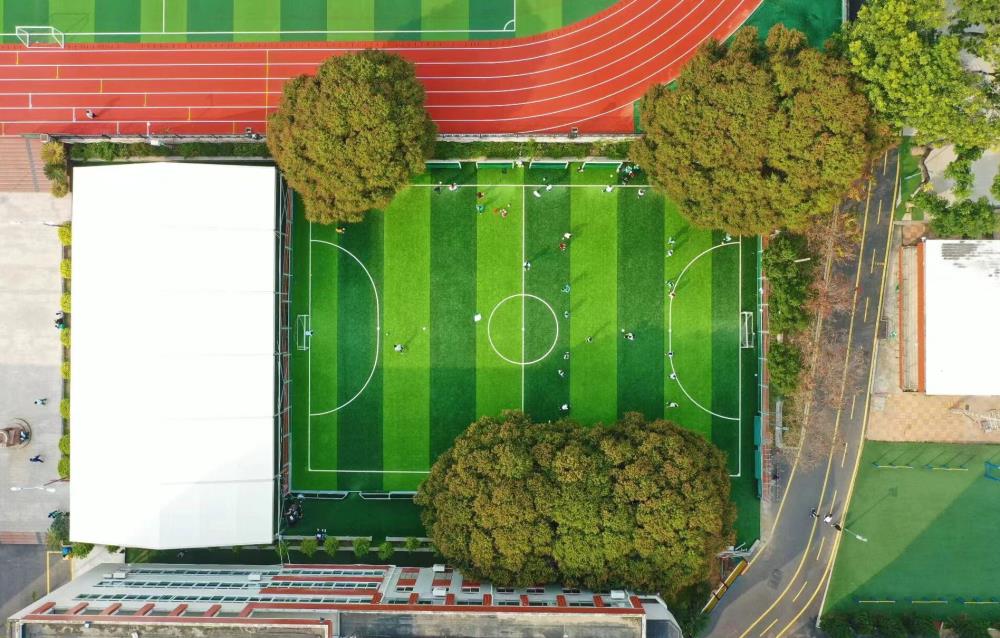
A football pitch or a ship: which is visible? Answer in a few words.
football pitch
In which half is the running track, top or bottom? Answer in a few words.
top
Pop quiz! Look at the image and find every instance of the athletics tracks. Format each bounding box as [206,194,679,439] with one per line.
[0,0,767,141]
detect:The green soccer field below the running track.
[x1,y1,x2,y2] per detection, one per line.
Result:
[290,166,758,492]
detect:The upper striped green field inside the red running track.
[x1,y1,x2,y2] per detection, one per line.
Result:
[0,0,624,44]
